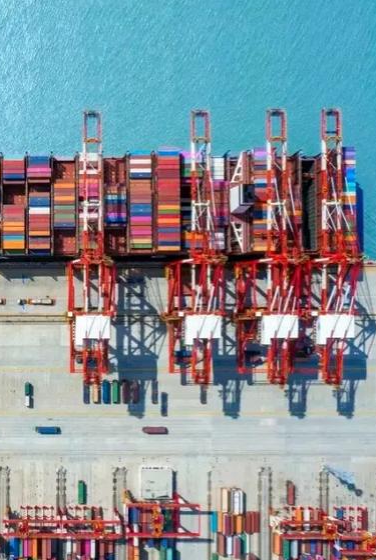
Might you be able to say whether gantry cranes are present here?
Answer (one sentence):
Yes, there's a gantry crane here.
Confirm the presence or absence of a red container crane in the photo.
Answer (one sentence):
Yes, looking at the shot, I can spot a red container crane.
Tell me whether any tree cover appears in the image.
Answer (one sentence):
No, the picture contains no tree cover.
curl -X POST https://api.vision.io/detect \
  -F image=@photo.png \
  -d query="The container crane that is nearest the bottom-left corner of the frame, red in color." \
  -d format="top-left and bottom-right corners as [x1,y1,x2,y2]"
[4,501,63,539]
